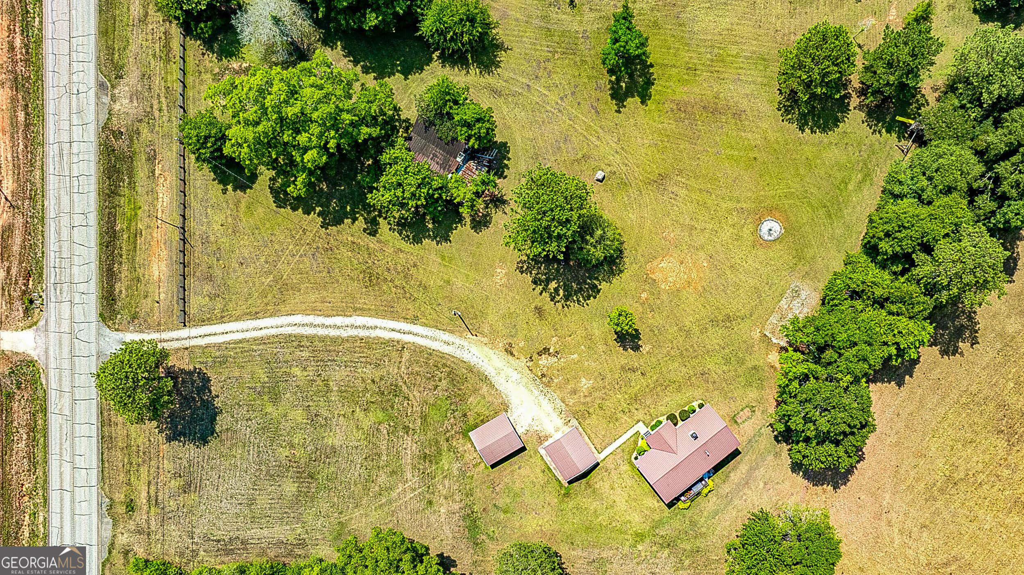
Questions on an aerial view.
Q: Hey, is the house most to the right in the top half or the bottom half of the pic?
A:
bottom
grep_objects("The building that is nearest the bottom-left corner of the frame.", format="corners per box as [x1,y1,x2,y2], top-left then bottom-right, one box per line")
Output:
[468,411,524,467]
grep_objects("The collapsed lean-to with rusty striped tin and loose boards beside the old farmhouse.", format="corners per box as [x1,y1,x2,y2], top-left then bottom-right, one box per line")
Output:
[457,146,501,179]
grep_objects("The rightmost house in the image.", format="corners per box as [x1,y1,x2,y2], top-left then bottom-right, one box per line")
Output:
[634,403,740,505]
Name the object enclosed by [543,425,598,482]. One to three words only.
building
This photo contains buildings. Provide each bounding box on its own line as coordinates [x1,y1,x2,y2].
[543,425,598,482]
[400,116,466,178]
[468,411,524,467]
[634,403,740,505]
